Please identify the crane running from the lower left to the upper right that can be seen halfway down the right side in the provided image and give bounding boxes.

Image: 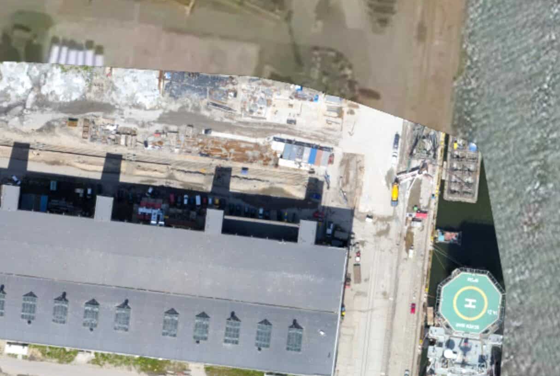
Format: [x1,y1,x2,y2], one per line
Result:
[392,162,430,206]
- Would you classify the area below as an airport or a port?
port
